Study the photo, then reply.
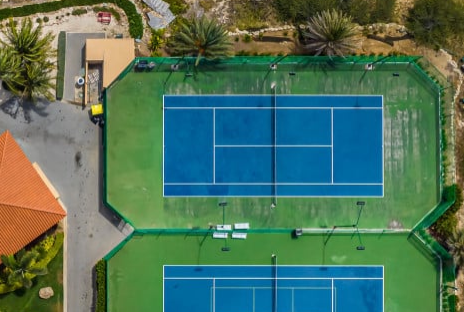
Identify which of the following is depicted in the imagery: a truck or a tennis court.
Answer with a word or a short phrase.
tennis court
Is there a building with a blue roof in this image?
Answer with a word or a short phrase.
No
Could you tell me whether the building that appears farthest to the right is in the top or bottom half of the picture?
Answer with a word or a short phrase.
top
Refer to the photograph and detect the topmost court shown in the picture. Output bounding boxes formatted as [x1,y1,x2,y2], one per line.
[108,64,440,229]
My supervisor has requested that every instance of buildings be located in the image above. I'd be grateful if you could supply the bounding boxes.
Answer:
[0,131,67,263]
[84,38,135,94]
